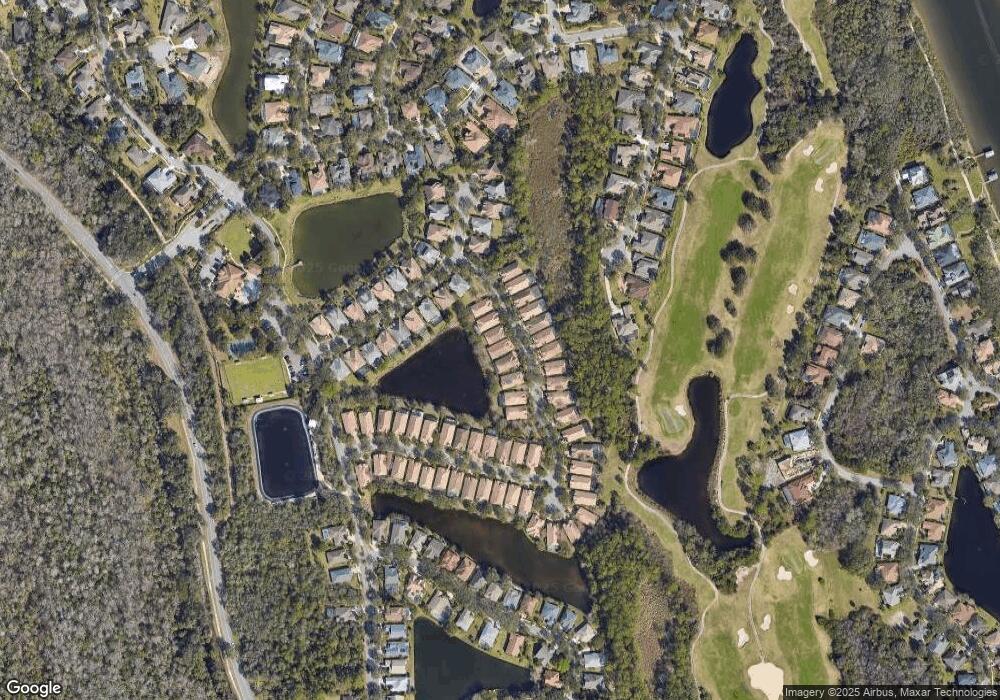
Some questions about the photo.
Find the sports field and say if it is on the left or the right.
left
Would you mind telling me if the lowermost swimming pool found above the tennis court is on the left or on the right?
left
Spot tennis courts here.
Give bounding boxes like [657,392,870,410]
[229,340,257,357]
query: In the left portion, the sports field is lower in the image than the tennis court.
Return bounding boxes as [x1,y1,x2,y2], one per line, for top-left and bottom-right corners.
[226,356,288,404]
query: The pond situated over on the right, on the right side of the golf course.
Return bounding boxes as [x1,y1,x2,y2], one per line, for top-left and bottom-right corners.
[944,465,1000,625]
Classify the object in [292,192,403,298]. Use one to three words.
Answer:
pond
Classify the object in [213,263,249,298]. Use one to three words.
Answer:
building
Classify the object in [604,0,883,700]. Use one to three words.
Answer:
golf course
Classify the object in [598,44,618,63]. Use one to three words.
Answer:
house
